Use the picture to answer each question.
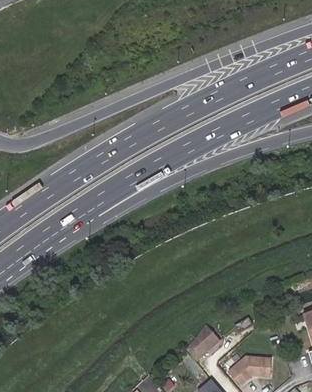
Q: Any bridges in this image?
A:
No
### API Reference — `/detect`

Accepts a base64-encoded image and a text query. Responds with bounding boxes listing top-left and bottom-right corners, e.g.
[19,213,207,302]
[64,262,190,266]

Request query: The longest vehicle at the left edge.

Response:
[10,179,47,208]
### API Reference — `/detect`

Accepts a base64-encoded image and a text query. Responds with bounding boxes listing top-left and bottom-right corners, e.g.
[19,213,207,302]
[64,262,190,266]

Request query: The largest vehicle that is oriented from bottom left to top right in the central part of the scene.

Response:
[132,168,170,194]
